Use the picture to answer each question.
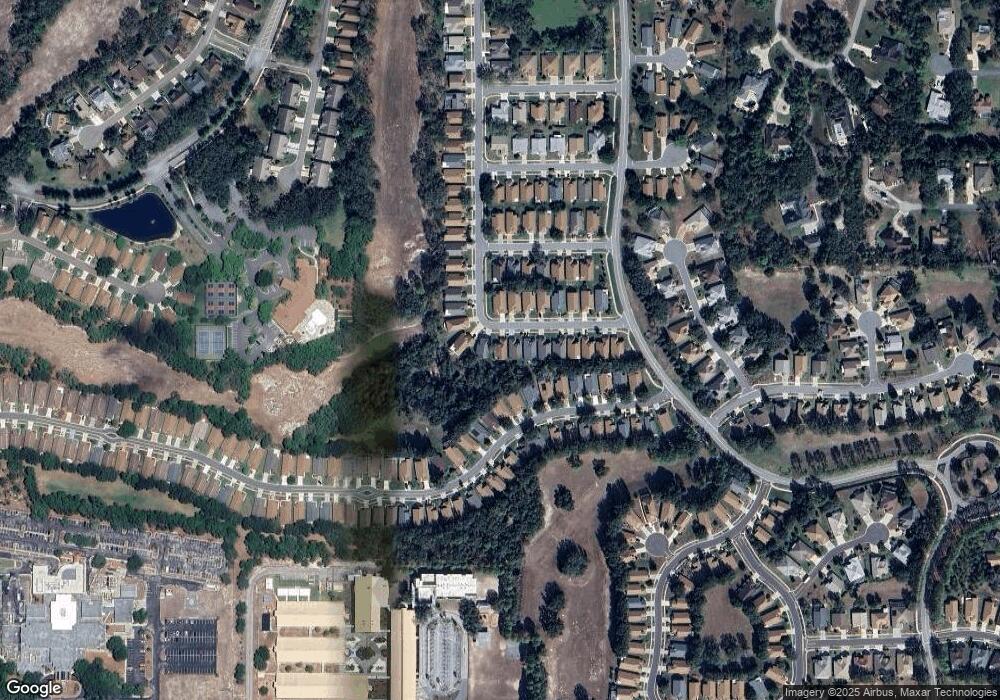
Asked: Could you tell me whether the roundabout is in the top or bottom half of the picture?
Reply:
bottom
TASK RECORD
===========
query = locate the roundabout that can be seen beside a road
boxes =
[938,437,1000,511]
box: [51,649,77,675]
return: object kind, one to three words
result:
building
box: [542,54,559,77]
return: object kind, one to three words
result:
house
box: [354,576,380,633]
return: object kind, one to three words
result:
building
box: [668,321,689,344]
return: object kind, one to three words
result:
house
